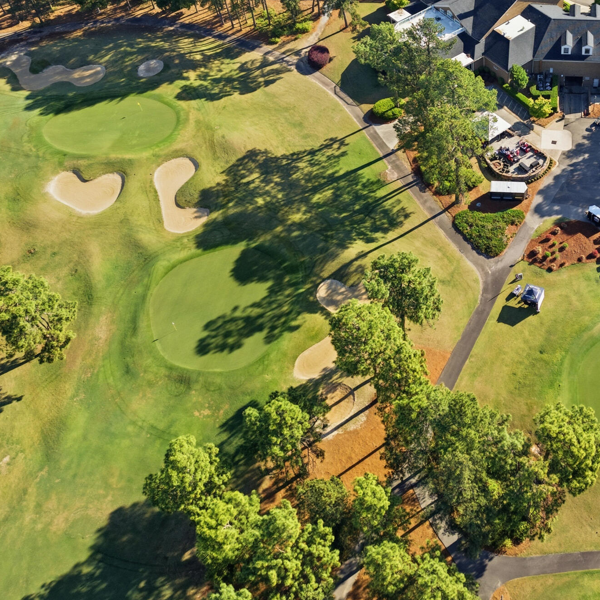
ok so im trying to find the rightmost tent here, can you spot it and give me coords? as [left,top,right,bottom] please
[520,284,544,312]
